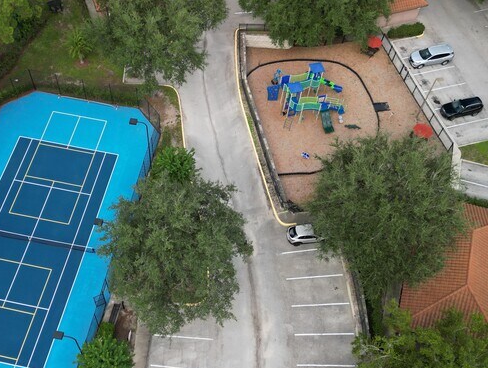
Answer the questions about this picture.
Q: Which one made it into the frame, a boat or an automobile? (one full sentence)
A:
There is an automobile in the scene.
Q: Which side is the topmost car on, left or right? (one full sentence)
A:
The topmost car sits on the right side.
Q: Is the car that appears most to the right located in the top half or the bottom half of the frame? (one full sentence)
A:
You can find the car that appears most to the right in the top half.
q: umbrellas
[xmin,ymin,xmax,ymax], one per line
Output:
[412,126,432,141]
[364,39,381,60]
